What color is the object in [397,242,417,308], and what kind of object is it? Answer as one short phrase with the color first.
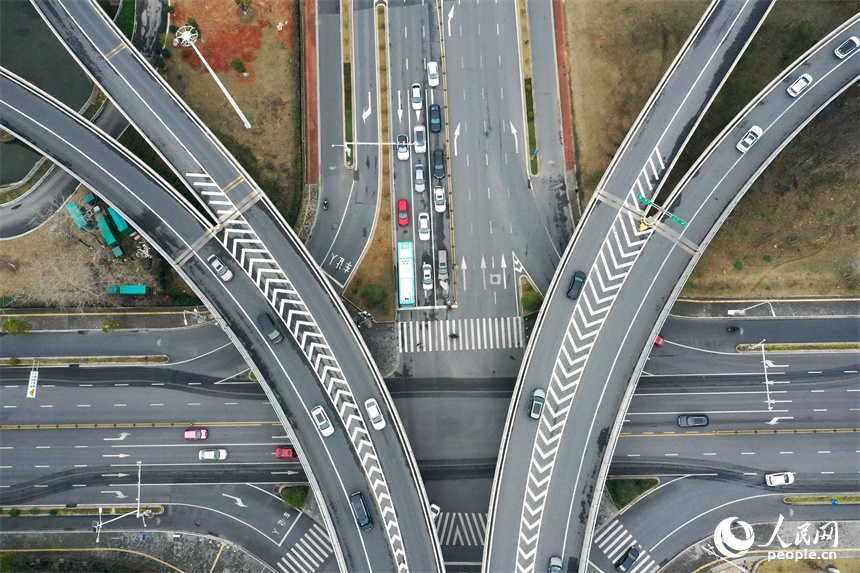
white bus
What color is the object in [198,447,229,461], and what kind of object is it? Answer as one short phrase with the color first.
white car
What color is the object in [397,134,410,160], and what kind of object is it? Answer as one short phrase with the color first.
white vehicle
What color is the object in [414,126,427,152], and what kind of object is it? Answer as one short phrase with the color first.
white vehicle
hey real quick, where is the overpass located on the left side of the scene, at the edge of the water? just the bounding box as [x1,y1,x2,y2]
[0,0,447,573]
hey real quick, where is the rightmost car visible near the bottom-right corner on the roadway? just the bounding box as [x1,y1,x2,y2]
[763,471,795,486]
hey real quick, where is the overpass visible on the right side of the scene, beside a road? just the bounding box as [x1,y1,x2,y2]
[479,0,860,573]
